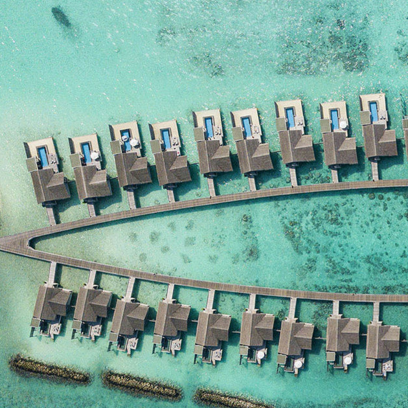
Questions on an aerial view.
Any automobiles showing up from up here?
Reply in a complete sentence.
No, the photo shows no automobile.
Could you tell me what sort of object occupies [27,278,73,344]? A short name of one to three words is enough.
house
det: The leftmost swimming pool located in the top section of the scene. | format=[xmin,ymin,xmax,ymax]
[36,144,51,168]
